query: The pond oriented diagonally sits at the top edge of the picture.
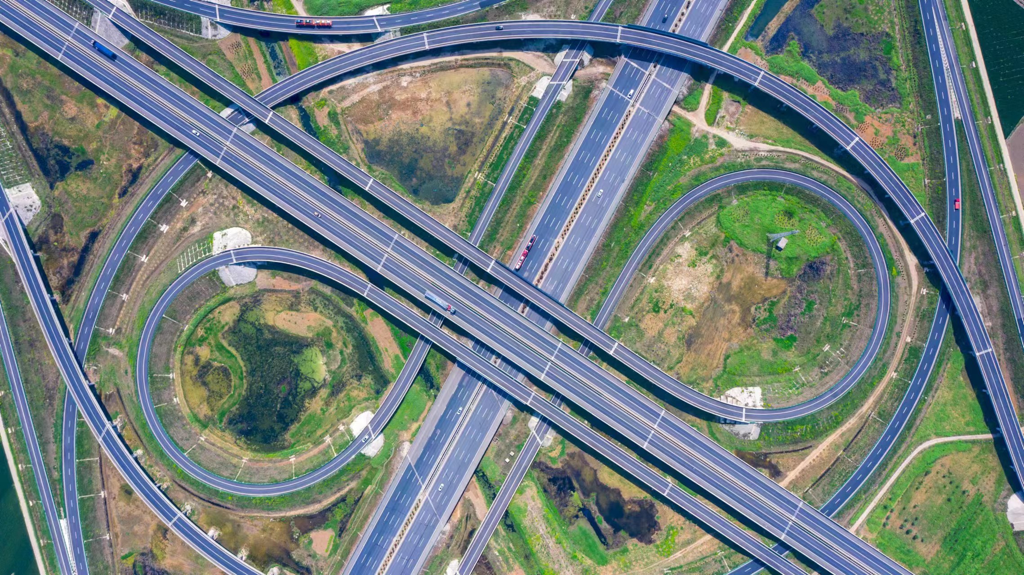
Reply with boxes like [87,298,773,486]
[776,0,901,110]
